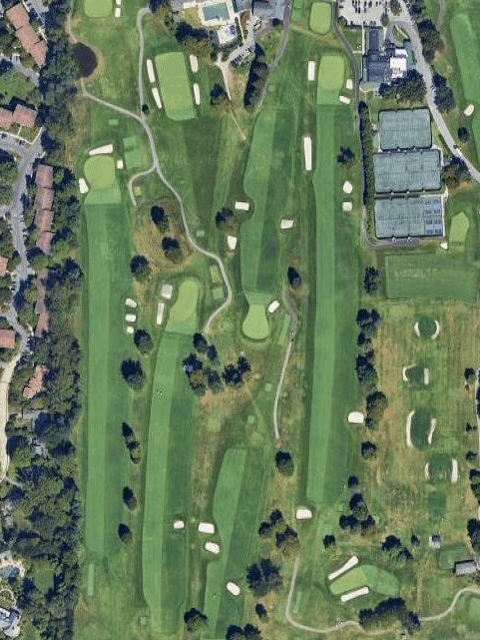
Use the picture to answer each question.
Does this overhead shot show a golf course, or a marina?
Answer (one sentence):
This image shows a golf course.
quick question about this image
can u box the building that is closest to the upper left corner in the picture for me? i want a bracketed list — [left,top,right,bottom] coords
[5,3,47,67]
